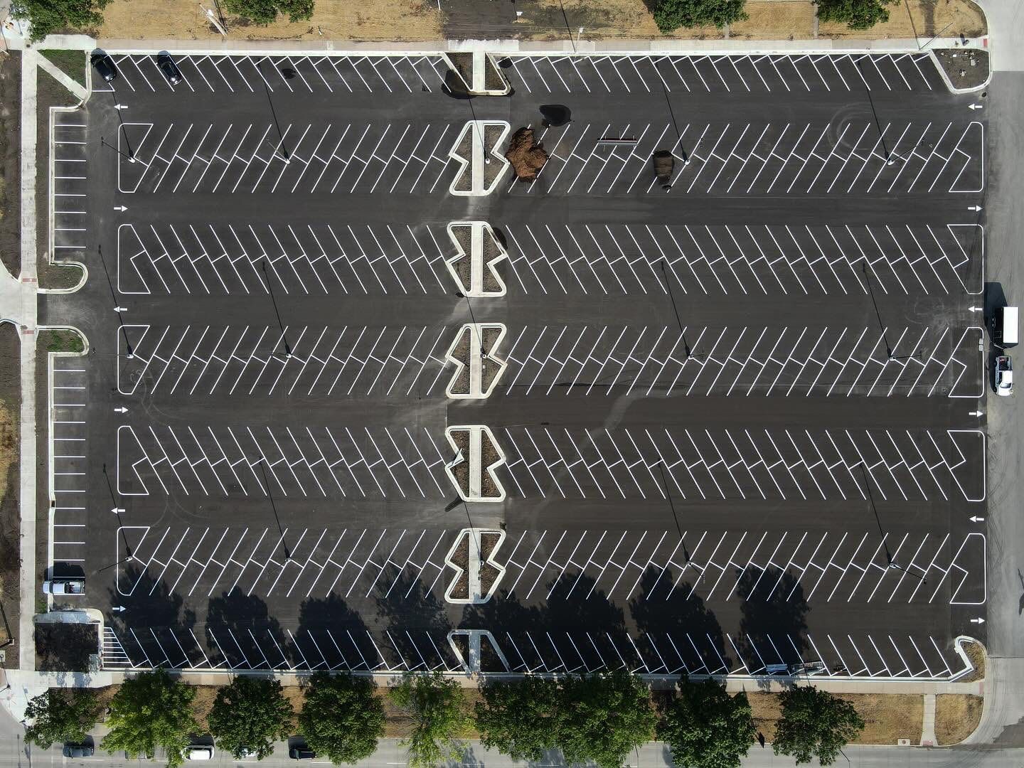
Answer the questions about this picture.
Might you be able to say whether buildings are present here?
No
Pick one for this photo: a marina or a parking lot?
parking lot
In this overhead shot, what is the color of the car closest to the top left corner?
black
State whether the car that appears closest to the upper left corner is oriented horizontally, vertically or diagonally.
diagonally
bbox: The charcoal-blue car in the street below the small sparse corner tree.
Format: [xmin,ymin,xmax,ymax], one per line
[63,744,94,760]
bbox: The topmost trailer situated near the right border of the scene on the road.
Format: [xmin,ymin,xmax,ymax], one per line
[992,304,1019,350]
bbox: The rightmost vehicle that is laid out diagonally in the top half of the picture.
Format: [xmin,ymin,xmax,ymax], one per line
[156,52,182,82]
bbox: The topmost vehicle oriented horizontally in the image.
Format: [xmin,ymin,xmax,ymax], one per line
[42,580,83,597]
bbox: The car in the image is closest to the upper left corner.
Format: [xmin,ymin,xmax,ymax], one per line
[88,50,115,82]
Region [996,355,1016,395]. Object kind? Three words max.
vehicle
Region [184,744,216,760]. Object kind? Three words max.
car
